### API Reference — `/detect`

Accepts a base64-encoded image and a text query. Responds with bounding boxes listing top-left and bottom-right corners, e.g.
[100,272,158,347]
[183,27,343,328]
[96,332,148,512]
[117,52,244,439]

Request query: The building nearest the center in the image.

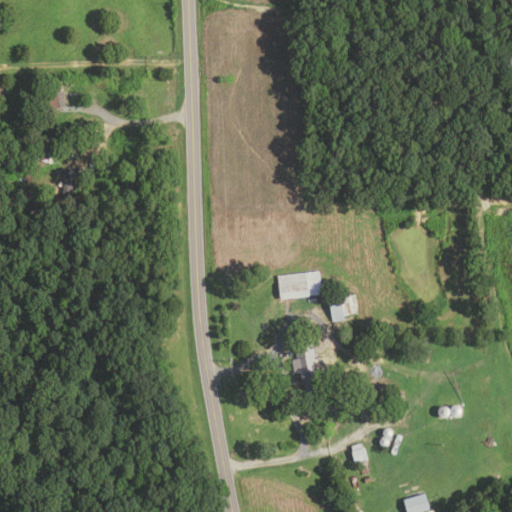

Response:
[277,270,322,300]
